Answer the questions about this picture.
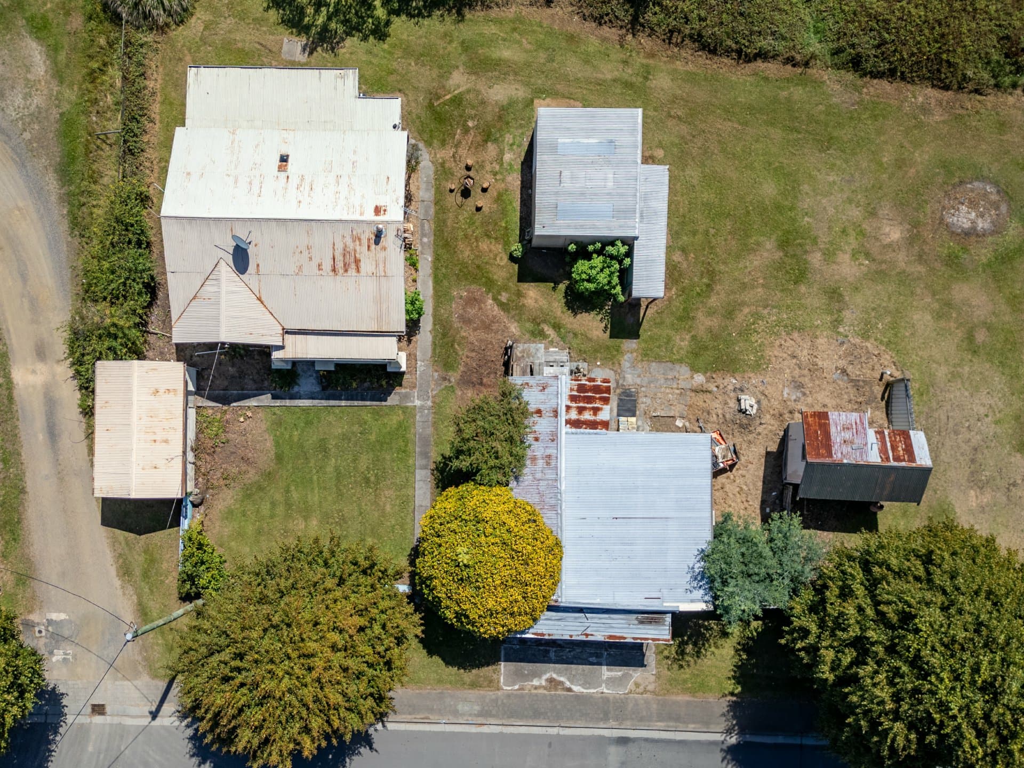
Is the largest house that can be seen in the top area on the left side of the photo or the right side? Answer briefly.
left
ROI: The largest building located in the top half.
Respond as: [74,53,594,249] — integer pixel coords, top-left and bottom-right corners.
[144,63,408,367]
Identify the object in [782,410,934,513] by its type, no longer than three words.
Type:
shed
